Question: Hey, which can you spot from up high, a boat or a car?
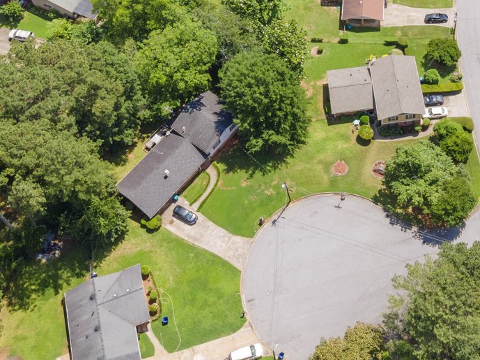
car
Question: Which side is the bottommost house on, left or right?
left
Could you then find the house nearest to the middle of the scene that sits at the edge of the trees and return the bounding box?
[113,99,239,219]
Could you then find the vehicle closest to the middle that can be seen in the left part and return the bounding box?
[170,201,200,227]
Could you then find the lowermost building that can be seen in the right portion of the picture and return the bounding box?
[323,55,431,135]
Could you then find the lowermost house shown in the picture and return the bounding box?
[64,262,150,360]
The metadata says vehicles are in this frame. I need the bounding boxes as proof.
[426,107,448,120]
[222,340,267,360]
[426,94,446,106]
[424,13,448,24]
[170,201,200,227]
[9,29,36,41]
